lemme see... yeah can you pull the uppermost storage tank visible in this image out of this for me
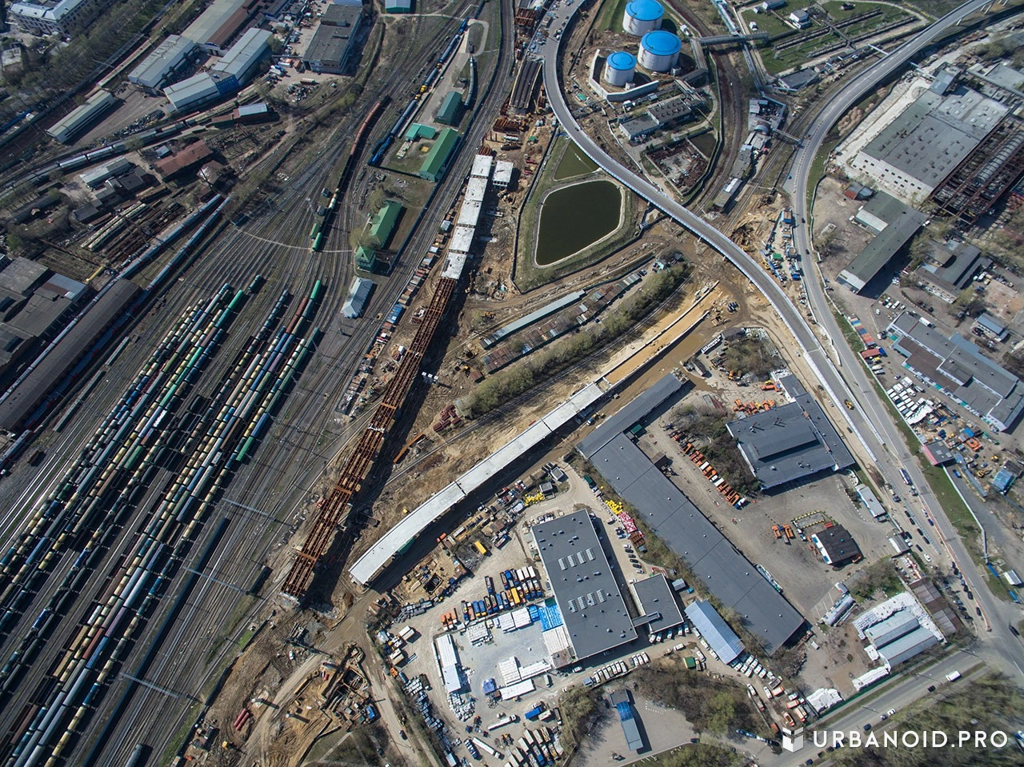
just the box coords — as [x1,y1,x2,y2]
[620,0,664,37]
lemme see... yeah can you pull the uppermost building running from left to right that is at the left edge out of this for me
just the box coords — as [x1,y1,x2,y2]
[10,0,111,36]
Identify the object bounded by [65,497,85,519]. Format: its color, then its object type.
black rail car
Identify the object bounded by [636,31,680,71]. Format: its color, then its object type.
blue storage tank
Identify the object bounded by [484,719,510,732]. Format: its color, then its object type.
white vehicle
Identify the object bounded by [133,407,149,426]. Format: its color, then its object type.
black rail car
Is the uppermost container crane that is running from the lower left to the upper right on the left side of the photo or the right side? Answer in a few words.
right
